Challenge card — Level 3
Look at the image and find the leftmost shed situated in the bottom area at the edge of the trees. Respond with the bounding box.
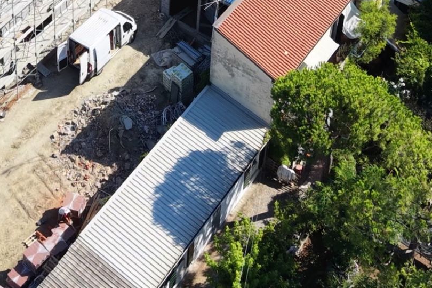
[36,84,273,288]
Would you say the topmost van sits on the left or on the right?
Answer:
left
